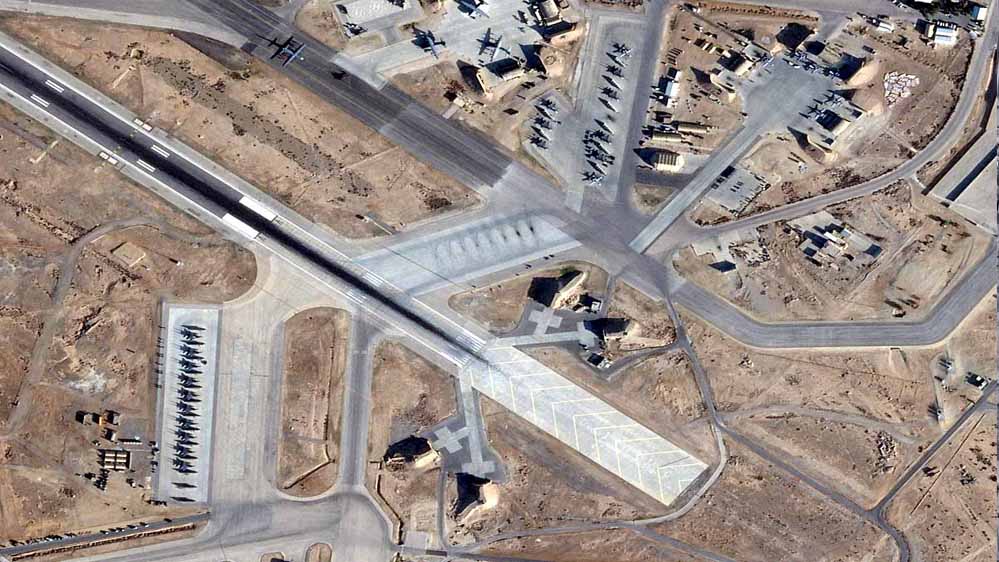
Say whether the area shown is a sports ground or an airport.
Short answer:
airport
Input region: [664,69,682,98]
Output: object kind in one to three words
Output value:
building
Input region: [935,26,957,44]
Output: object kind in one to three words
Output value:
building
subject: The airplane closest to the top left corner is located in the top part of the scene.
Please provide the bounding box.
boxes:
[281,43,302,68]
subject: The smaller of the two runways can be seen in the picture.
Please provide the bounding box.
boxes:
[253,217,489,374]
